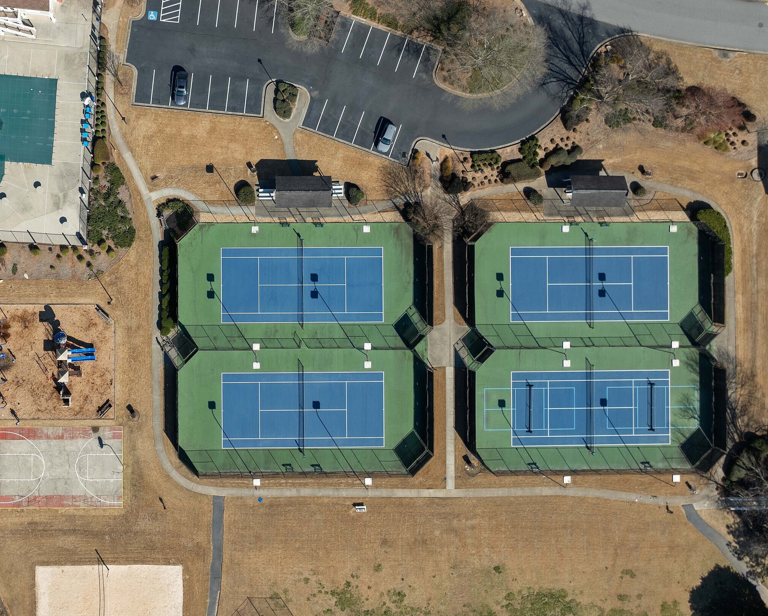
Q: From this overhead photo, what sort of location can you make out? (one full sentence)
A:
The picture captures a sports ground.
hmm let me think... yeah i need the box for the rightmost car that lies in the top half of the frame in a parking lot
[377,121,398,154]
